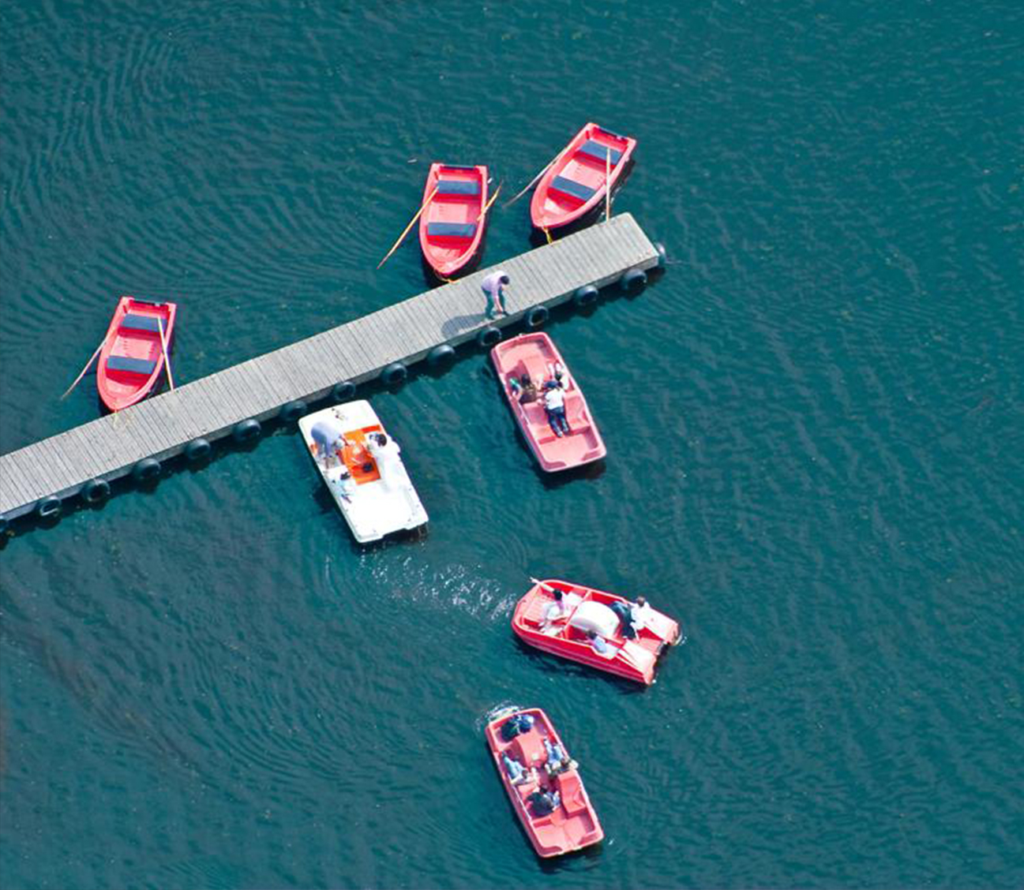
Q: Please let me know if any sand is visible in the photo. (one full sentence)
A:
No, sand can't be seen anywhere here.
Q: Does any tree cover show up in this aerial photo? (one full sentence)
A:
No, no tree cover is visible.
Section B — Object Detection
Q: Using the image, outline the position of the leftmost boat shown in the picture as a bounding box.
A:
[94,298,176,413]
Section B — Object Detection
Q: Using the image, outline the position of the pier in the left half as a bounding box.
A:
[0,211,658,522]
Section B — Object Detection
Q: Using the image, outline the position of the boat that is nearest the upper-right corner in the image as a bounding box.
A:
[532,126,634,233]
